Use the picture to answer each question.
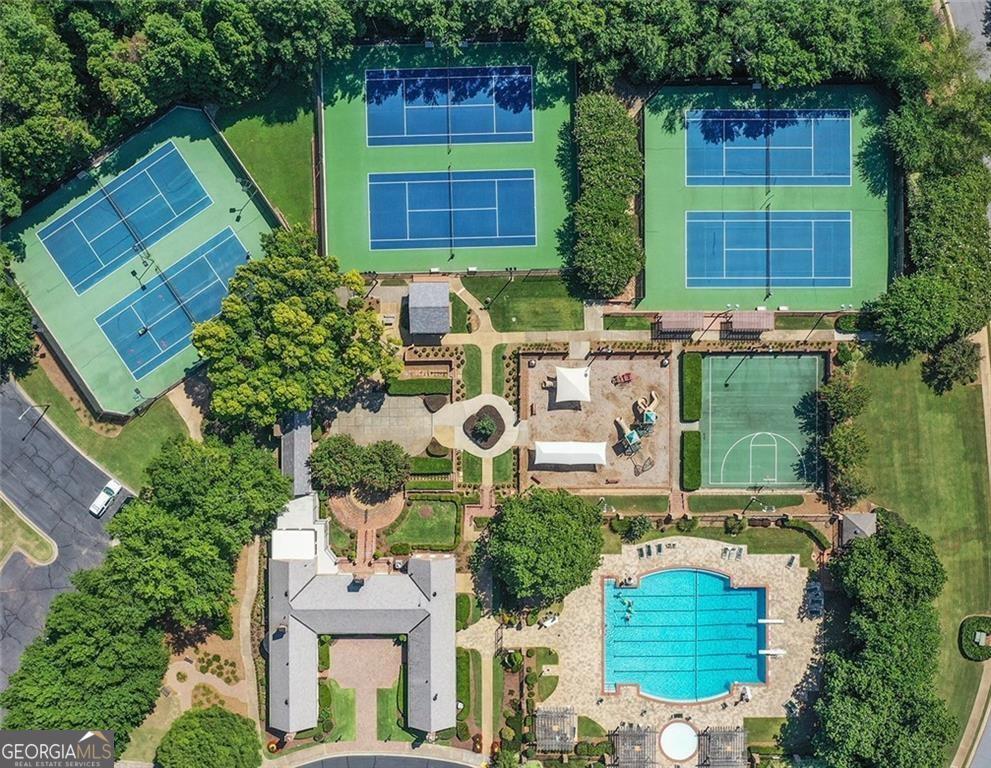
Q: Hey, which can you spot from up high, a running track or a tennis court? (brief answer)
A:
tennis court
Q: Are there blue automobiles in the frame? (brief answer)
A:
No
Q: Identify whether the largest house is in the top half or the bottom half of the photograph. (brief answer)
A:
bottom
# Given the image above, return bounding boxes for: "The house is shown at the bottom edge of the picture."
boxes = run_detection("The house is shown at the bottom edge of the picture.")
[254,490,457,741]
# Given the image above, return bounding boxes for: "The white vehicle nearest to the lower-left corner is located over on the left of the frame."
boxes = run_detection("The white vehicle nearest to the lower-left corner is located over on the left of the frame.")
[85,482,118,518]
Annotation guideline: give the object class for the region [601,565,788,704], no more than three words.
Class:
swimming pool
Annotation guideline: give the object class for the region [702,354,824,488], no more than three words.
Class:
basketball court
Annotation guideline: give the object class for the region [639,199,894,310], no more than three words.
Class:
tennis court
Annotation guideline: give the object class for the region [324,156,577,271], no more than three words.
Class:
tennis court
